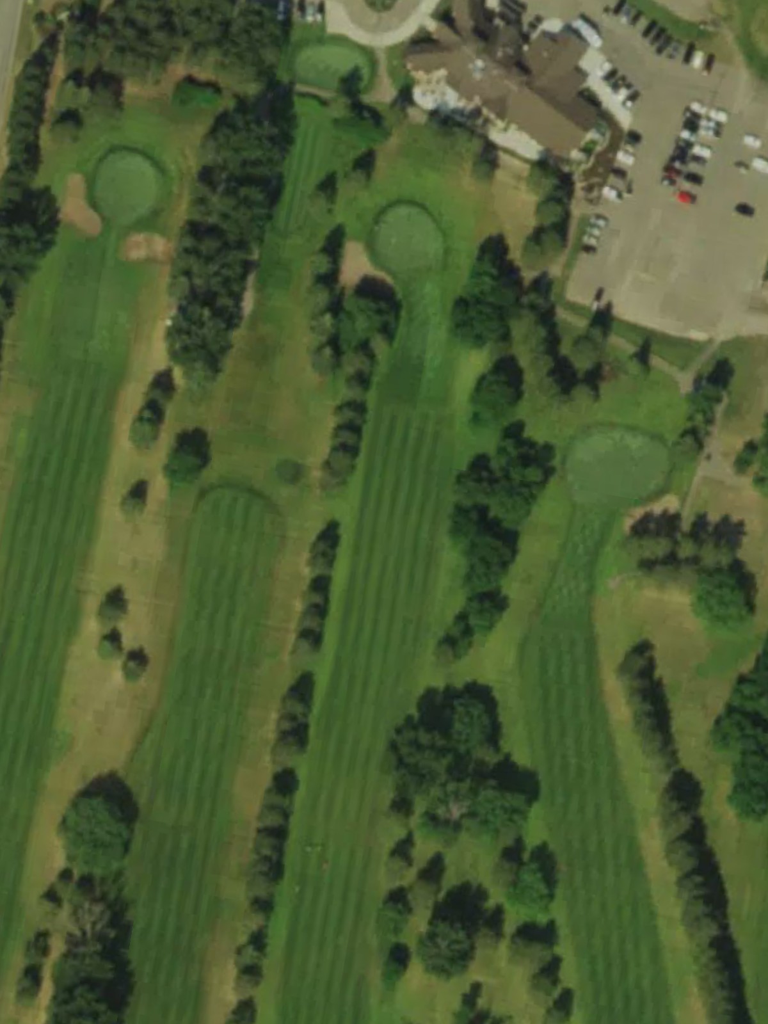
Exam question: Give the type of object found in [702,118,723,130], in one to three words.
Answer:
vehicle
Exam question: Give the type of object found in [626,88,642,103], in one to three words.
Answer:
car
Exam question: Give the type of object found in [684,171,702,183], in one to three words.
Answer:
vehicle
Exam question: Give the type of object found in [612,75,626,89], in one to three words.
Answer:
car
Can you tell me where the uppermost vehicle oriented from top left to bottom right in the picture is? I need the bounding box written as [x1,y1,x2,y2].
[571,18,602,48]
